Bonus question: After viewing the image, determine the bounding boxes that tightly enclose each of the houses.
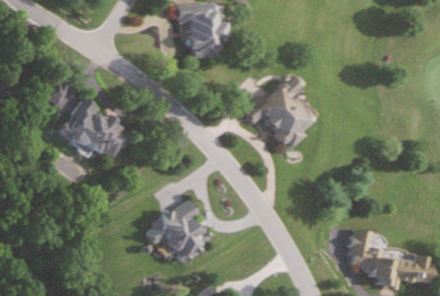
[56,98,128,156]
[247,76,312,151]
[144,198,210,264]
[345,229,436,292]
[174,0,232,60]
